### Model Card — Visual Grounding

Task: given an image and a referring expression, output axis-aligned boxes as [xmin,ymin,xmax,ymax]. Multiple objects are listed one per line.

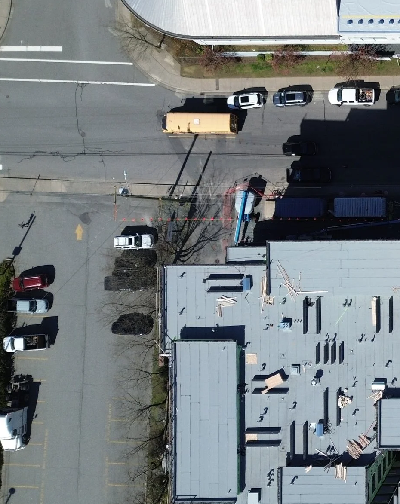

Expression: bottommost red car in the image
[14,273,49,292]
